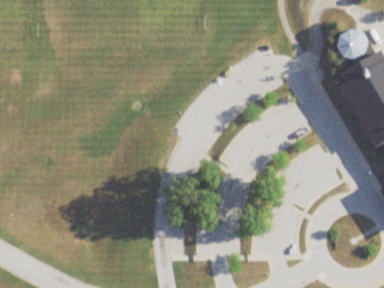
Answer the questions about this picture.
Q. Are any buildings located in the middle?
No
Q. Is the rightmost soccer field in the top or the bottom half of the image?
top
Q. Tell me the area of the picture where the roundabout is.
bottom right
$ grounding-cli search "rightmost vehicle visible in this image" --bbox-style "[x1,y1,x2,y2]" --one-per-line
[369,26,382,44]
